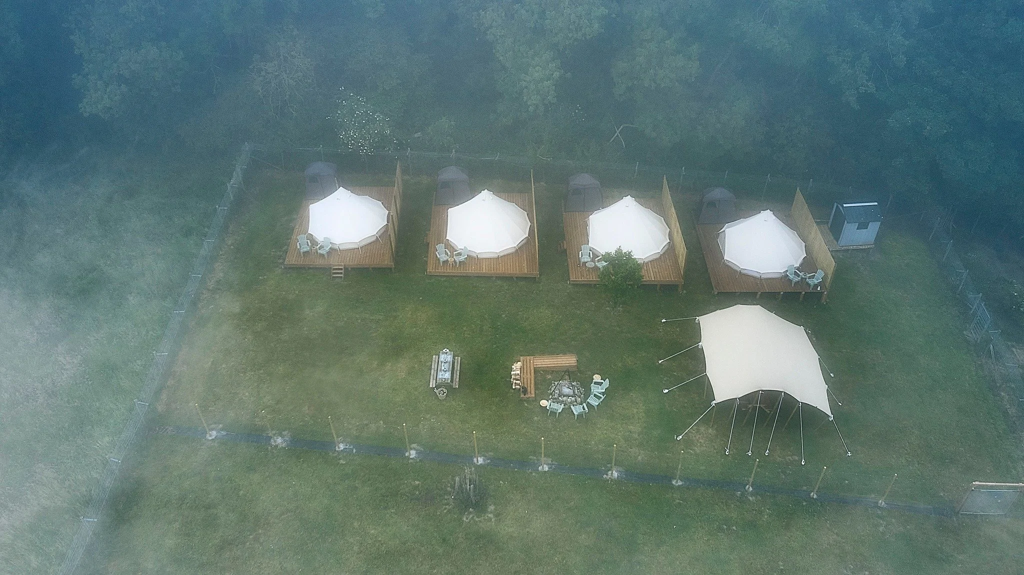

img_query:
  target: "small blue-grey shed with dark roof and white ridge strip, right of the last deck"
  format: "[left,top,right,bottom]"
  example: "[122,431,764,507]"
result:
[826,198,885,246]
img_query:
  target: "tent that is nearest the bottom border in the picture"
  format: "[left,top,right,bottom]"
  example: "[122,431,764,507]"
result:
[658,305,852,465]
